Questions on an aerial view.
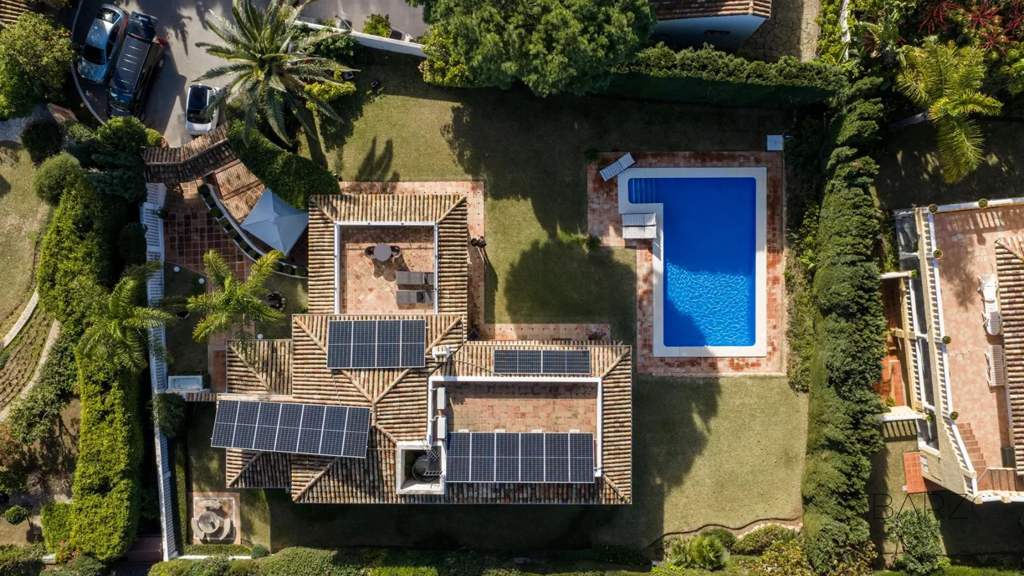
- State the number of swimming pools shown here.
1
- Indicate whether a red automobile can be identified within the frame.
No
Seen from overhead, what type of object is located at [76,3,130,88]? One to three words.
car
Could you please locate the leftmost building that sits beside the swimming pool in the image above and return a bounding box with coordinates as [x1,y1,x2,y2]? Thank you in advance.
[214,192,635,507]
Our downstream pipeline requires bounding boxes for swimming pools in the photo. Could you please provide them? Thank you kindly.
[619,167,767,357]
